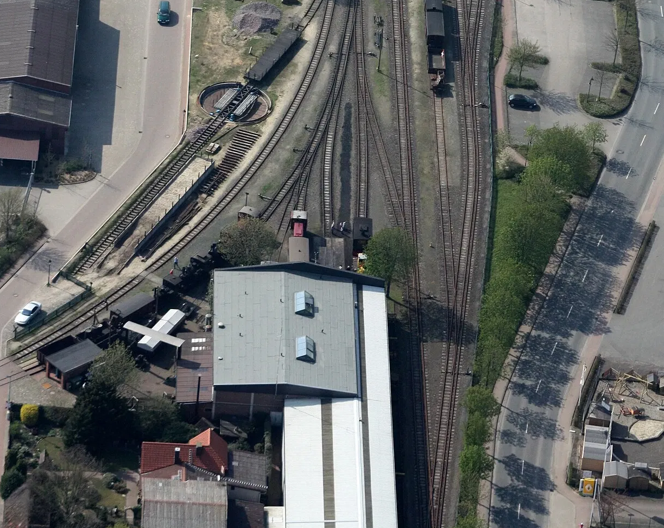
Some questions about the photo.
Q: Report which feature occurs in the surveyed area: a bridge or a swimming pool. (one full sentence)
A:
Visible in the photo is a bridge.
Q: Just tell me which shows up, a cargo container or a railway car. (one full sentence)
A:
The one in the frame is a railway car.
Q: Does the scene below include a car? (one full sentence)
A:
Yes, there is a car in the image.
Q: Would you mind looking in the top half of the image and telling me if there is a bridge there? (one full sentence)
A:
Yes, a bridge can be seen in the top half of the image.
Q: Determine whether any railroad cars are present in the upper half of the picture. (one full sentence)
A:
Yes, looking in the upper half of the picture, one can make out a railroad car.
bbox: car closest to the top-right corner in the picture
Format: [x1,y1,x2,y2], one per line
[510,92,538,109]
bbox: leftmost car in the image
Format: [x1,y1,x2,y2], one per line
[17,301,42,324]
